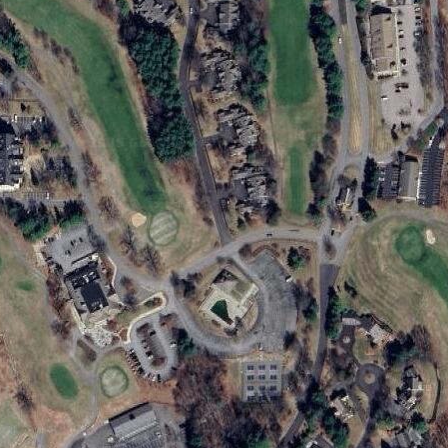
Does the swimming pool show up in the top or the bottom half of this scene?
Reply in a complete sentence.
The swimming pool sits in the bottom half of the picture.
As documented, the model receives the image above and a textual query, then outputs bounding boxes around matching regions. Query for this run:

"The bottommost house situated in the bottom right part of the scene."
[386,426,425,448]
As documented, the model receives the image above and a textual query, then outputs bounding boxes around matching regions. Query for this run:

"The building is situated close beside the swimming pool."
[216,276,254,302]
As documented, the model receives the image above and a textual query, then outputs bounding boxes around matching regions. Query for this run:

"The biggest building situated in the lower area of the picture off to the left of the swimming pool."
[62,256,112,320]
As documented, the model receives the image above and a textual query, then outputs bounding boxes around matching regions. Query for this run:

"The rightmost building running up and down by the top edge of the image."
[369,14,400,74]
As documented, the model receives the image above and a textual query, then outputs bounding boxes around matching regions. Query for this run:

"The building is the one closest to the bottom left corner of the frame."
[108,401,157,438]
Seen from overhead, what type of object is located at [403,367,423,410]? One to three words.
house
